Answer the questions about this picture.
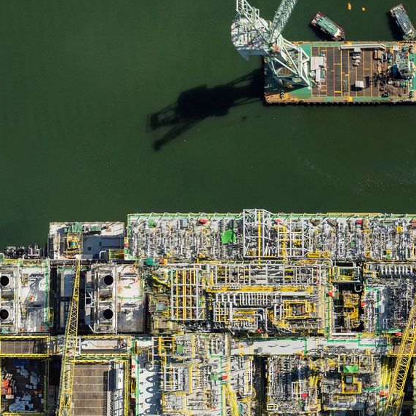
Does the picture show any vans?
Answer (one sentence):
No, I can't see a single van in this photo.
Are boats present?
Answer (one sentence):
Yes, I can see a boat in this picture.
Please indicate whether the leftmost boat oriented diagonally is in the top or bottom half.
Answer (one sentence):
It is in the top half that the leftmost boat oriented diagonally appears.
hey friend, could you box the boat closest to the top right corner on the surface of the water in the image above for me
[386,2,414,40]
